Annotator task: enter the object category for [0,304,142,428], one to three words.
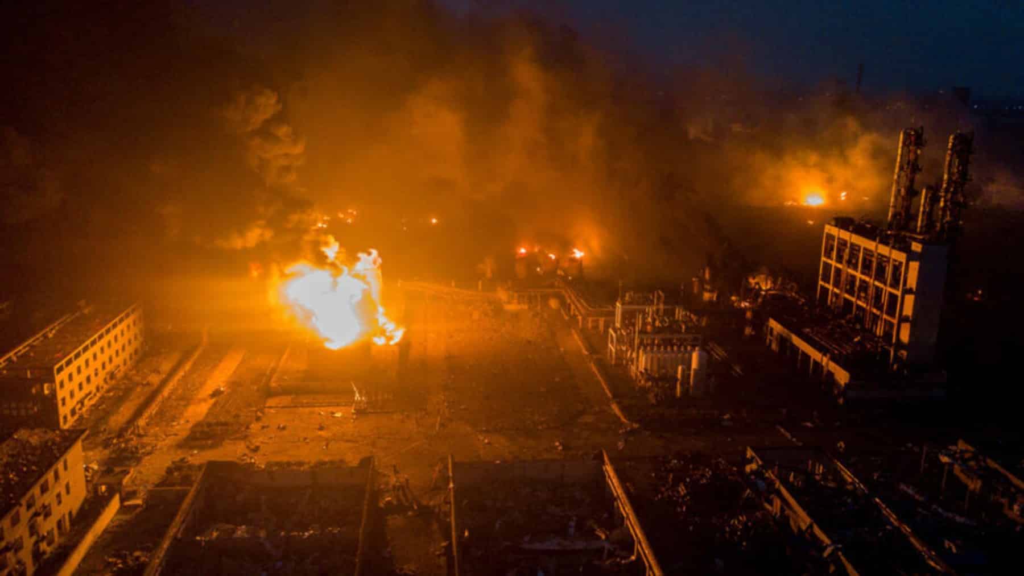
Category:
building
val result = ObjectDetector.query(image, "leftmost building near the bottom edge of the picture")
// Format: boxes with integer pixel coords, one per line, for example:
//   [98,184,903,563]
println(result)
[0,422,87,576]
